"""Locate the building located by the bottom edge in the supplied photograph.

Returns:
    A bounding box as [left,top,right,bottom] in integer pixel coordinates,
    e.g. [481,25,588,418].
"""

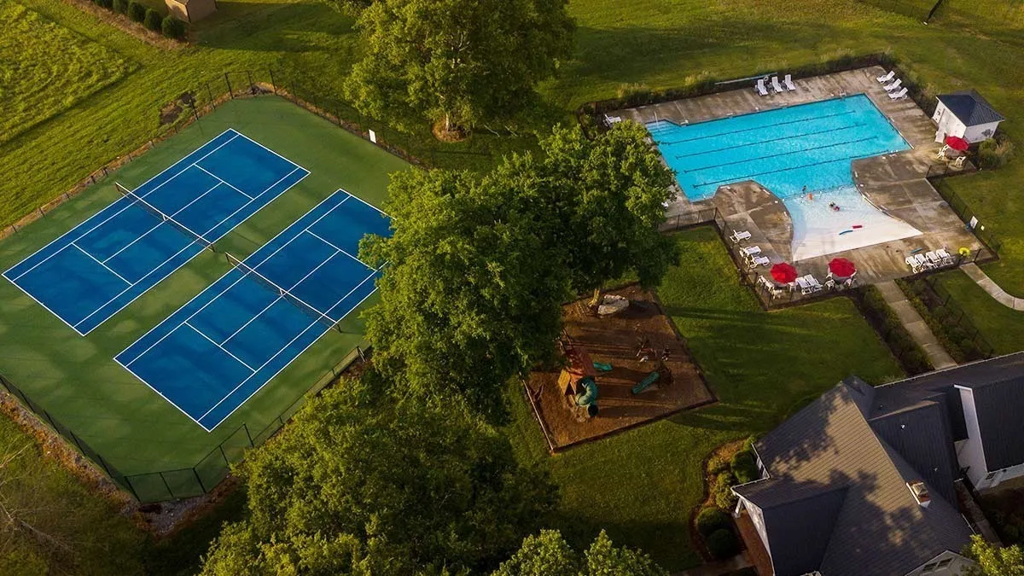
[729,351,1024,576]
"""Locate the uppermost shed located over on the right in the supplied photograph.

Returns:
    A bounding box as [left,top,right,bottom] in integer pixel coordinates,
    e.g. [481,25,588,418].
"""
[935,88,1007,140]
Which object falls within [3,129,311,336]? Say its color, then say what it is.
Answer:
blue tennis court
